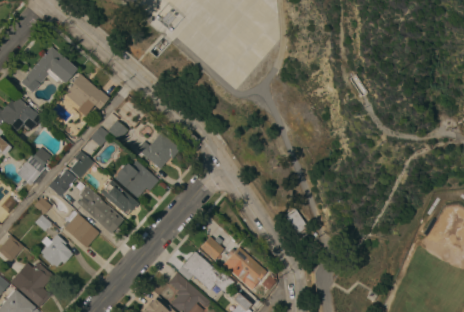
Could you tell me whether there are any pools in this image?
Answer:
Yes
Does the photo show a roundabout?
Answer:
No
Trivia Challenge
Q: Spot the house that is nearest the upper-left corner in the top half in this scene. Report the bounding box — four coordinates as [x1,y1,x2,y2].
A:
[22,46,77,91]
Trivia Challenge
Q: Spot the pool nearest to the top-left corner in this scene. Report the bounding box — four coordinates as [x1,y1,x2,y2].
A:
[34,84,56,100]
